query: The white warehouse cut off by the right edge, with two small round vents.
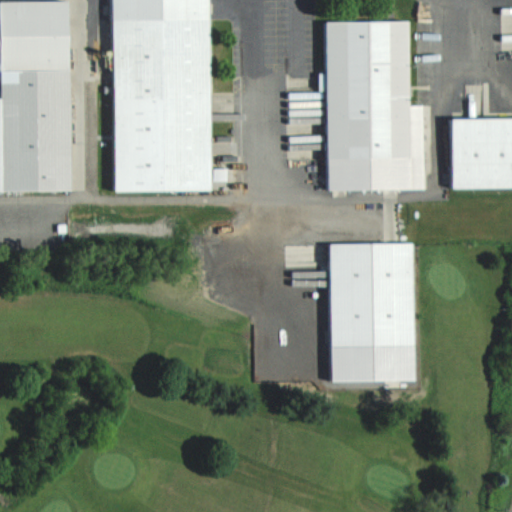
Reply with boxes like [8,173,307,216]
[450,118,512,191]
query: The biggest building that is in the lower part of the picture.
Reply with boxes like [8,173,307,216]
[329,243,416,383]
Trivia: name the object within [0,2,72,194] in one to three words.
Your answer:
building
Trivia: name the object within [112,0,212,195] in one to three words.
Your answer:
building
